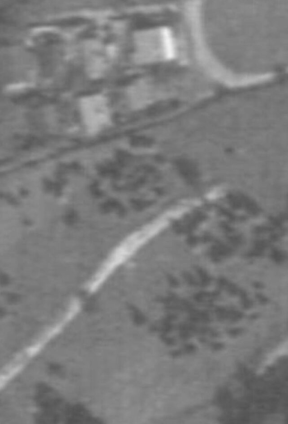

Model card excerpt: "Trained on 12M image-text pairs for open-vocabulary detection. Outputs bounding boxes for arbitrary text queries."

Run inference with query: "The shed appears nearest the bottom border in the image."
[78,94,112,133]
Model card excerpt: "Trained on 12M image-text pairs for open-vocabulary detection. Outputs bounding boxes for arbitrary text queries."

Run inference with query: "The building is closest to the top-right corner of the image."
[132,25,178,64]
